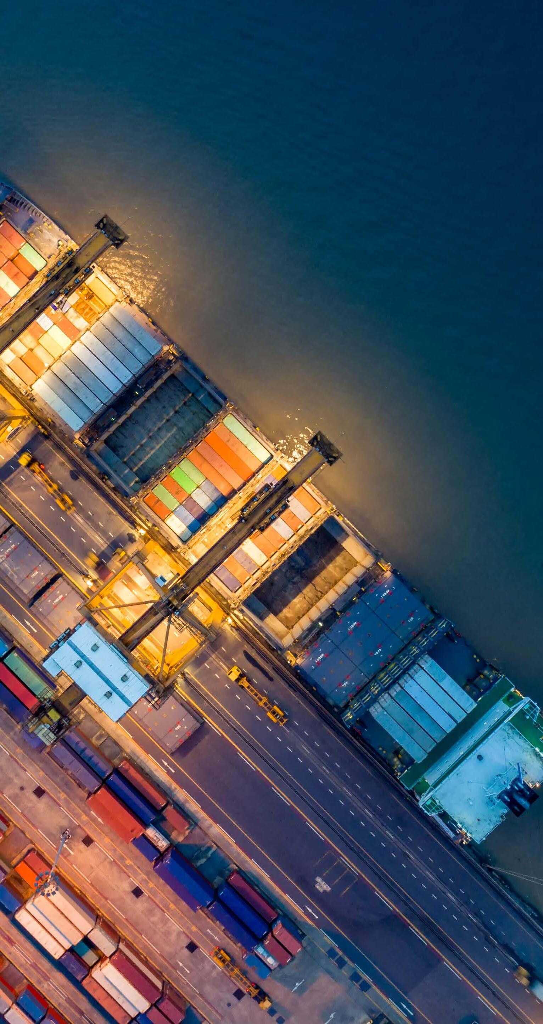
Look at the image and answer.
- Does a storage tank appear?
No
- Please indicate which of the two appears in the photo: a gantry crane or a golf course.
gantry crane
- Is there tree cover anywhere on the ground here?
No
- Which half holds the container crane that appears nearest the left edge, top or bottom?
top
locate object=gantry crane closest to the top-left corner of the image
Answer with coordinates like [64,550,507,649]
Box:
[0,214,134,501]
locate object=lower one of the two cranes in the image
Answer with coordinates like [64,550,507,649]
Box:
[22,431,348,746]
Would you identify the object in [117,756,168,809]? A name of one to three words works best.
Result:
shipping container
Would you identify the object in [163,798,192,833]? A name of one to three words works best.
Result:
shipping container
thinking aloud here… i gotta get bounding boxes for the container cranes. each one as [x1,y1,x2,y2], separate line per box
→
[0,214,134,501]
[22,431,348,746]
